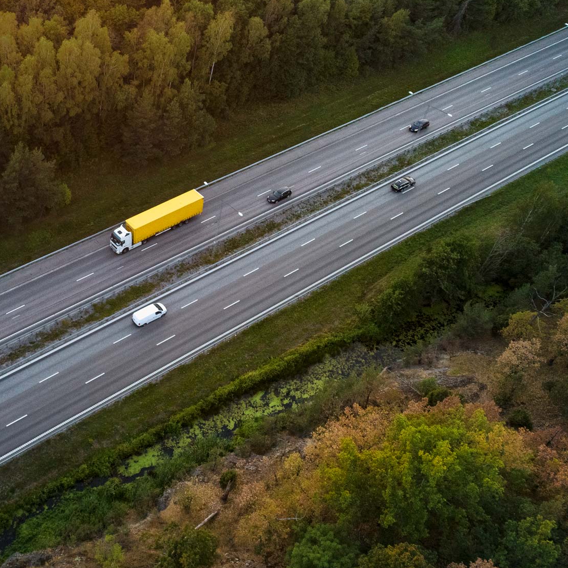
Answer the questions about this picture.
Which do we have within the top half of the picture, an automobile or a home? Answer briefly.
automobile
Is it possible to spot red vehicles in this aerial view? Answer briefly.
No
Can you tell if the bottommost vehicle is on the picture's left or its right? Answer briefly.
left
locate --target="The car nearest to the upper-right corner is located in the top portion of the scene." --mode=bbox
[408,118,431,133]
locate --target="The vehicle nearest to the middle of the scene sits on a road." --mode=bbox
[267,187,292,205]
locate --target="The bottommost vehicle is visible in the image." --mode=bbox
[133,302,169,326]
